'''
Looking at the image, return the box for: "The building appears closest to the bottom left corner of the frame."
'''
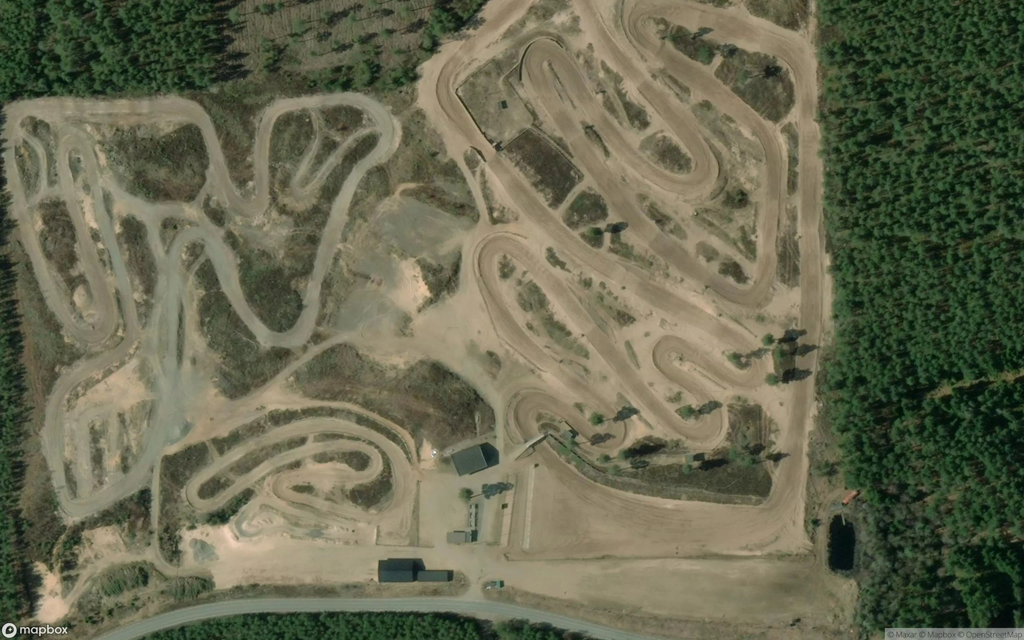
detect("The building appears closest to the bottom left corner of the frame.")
[378,560,413,582]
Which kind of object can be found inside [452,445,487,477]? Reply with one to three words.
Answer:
building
